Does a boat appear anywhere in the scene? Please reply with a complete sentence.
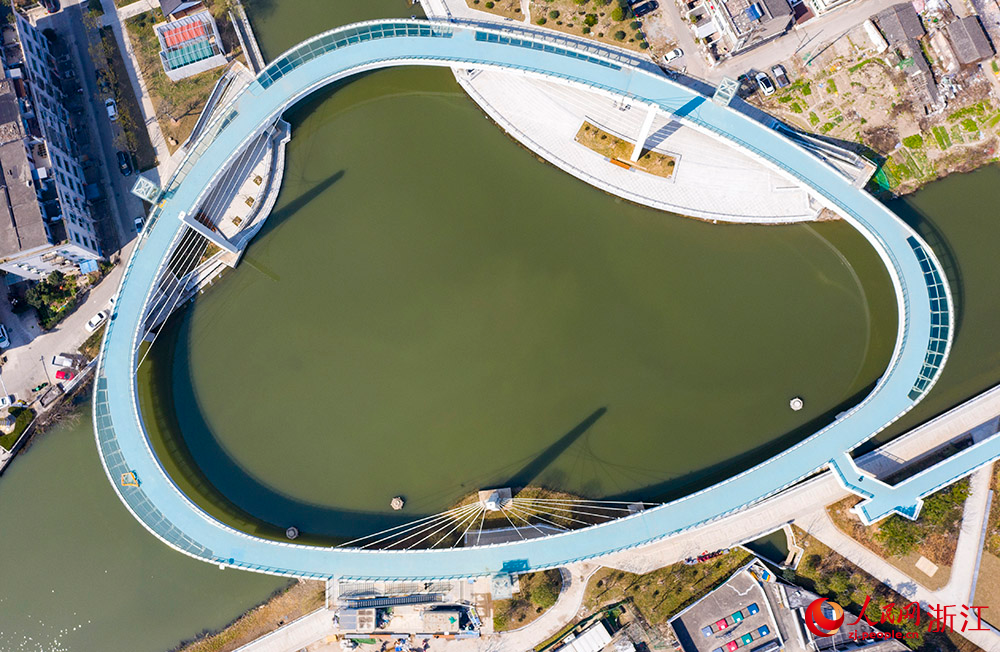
No, the photo shows no boat.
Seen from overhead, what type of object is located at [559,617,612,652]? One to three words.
shed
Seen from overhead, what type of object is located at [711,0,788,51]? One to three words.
house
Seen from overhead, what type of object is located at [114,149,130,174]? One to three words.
car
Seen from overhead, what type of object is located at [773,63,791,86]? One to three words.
vehicle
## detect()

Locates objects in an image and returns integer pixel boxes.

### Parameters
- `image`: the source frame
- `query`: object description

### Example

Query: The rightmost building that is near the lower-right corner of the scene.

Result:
[777,583,905,652]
